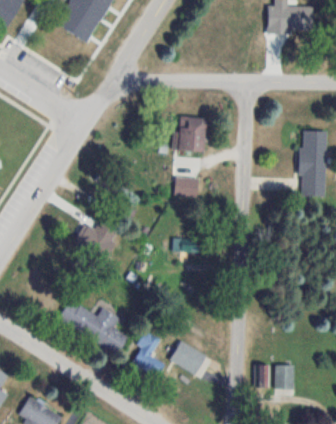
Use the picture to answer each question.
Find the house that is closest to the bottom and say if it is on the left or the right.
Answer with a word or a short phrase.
left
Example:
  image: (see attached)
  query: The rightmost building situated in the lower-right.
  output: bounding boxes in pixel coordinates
[274,366,296,390]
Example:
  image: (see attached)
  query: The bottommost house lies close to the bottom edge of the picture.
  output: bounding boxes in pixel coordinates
[20,398,62,424]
